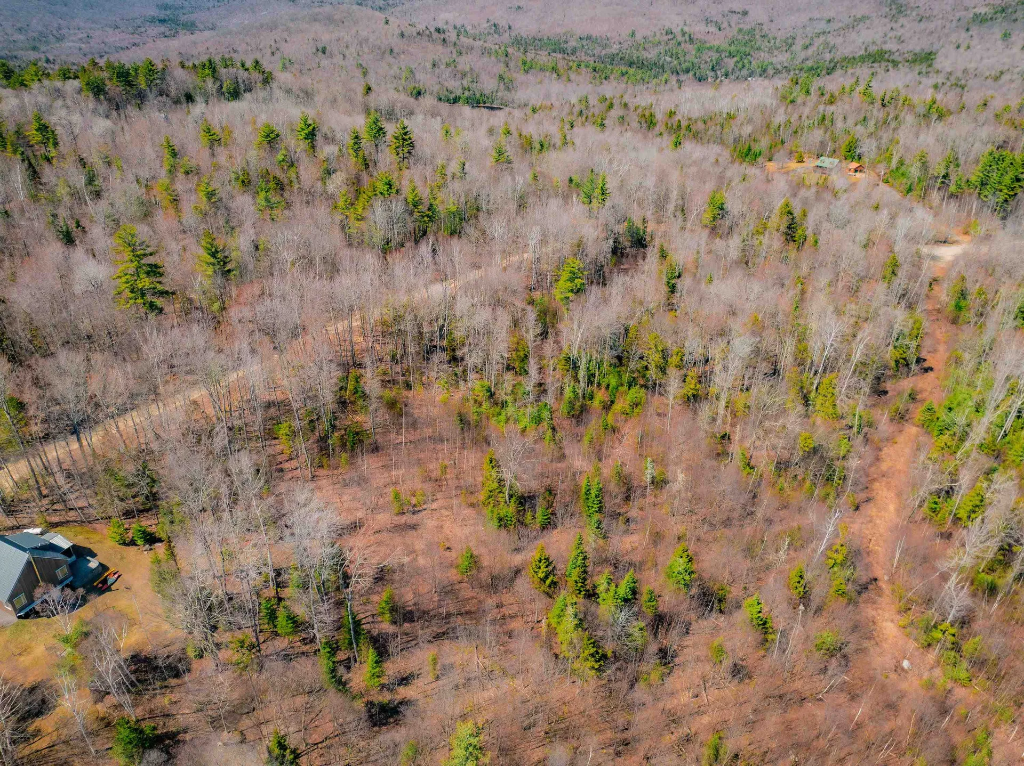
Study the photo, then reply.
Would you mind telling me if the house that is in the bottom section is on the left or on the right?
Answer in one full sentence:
The house that is in the bottom section is on the left side of the image.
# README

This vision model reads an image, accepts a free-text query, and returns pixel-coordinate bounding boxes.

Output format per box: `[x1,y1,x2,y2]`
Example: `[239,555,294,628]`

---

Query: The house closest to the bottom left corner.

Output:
[0,525,84,628]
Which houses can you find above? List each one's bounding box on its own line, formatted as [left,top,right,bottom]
[0,525,84,628]
[814,157,842,174]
